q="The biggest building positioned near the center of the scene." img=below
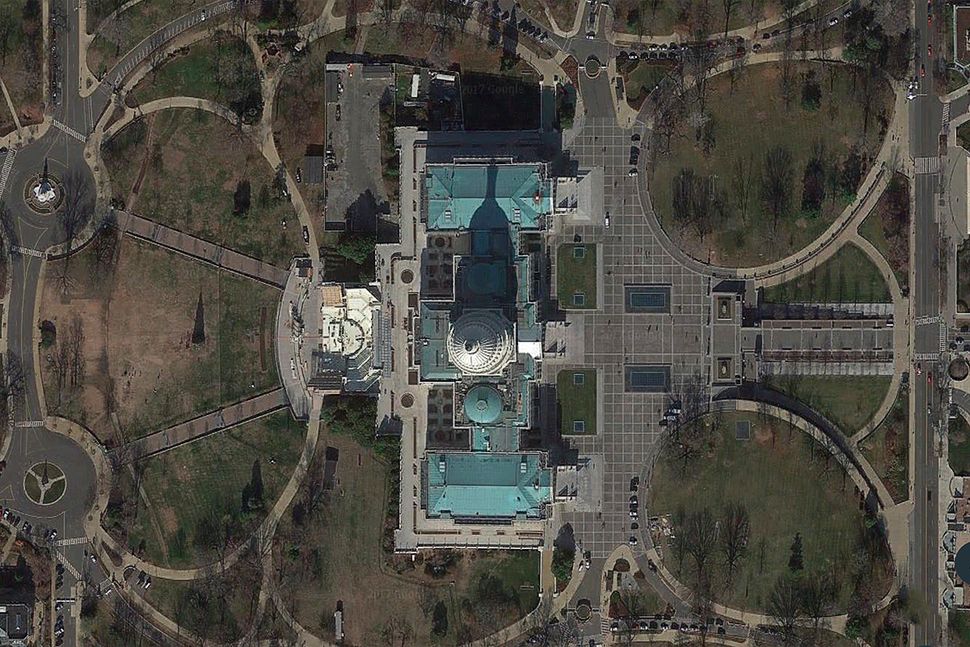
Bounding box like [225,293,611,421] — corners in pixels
[411,156,591,525]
